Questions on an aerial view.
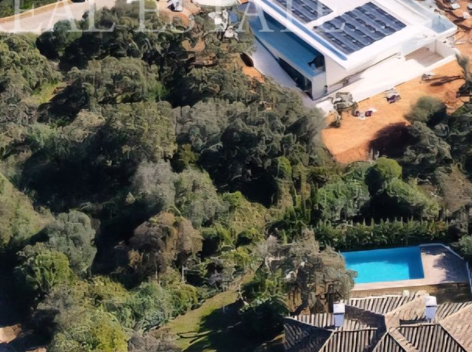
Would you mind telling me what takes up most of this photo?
trees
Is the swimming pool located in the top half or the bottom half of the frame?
bottom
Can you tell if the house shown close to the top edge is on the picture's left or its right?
right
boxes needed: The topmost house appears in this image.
[246,0,459,112]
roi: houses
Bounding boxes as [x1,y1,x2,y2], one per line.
[269,290,472,352]
[246,0,459,112]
